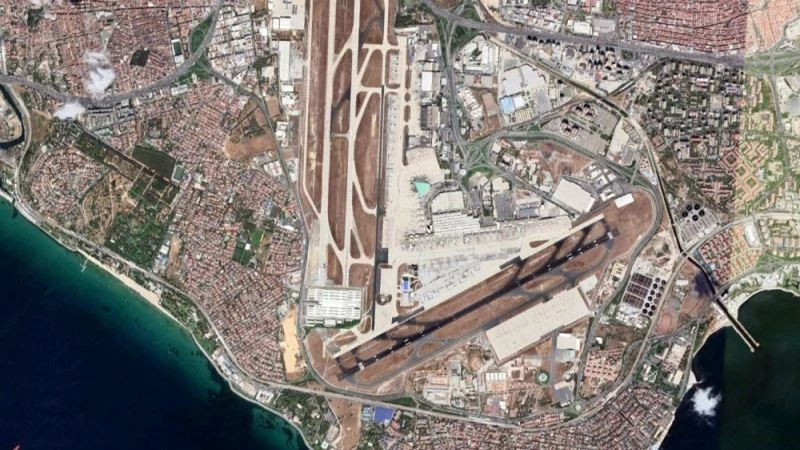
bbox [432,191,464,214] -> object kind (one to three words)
building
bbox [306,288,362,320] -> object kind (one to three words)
hangar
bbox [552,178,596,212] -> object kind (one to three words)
building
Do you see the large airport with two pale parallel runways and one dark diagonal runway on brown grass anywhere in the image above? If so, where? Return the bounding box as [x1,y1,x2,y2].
[270,0,653,388]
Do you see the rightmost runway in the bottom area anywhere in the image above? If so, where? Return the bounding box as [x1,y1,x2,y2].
[339,229,617,377]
